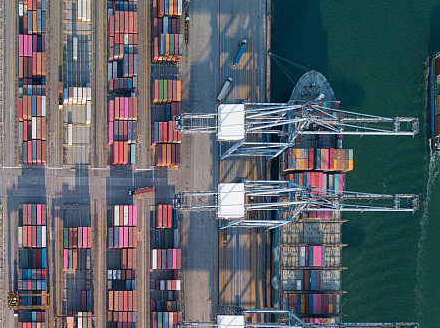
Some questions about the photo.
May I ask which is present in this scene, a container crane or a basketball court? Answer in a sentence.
This aerial view contains a container crane.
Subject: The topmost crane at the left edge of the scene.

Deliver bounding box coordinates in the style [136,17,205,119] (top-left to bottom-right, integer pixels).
[5,289,52,310]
